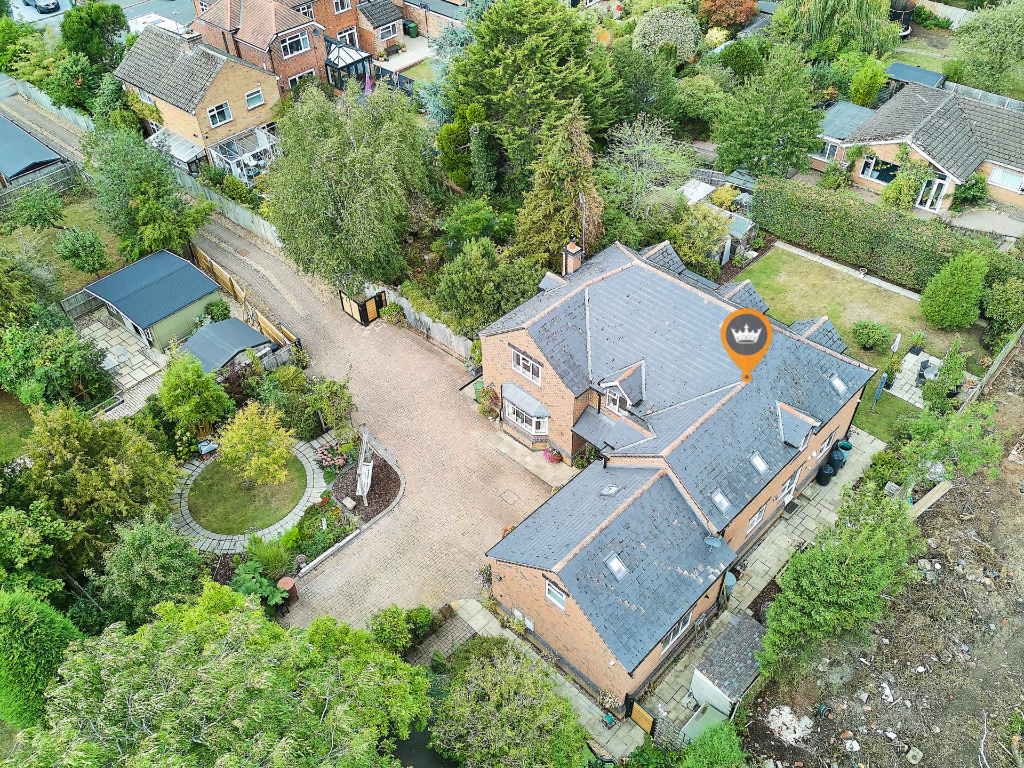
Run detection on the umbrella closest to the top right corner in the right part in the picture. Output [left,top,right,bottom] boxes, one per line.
[888,326,904,355]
